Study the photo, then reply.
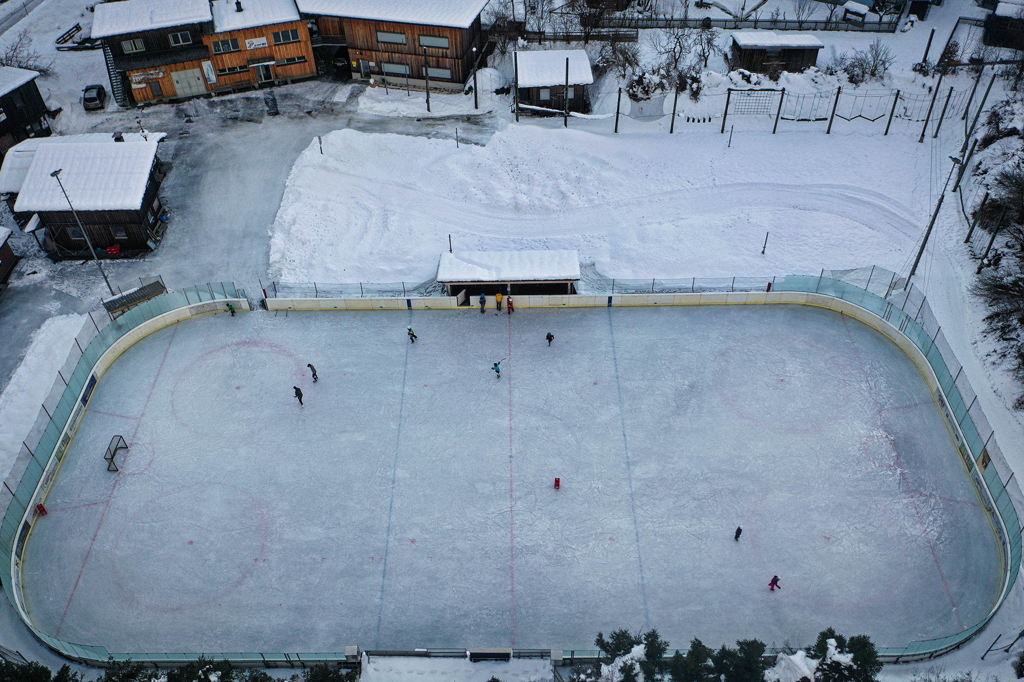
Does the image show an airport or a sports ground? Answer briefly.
sports ground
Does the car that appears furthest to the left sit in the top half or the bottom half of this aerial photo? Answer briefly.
top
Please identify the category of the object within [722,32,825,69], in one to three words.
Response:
shed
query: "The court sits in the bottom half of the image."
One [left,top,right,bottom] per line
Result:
[11,307,1010,676]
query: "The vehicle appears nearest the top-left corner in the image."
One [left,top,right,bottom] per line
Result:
[80,84,107,108]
